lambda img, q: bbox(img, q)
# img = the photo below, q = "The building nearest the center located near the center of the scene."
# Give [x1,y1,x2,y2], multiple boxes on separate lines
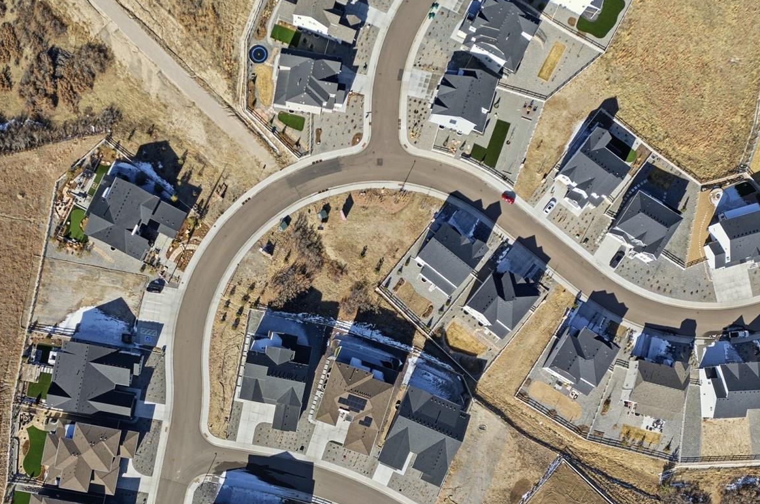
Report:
[414,220,490,298]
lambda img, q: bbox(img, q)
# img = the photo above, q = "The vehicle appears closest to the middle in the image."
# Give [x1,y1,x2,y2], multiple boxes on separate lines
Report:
[499,189,519,205]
